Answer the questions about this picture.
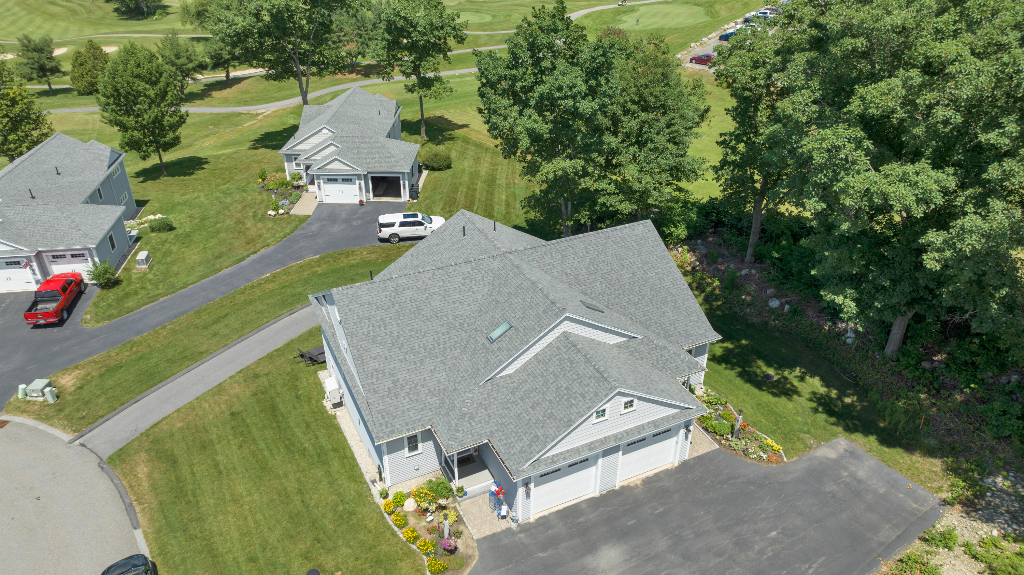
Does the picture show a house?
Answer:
Yes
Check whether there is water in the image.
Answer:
No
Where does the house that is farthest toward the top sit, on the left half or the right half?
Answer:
left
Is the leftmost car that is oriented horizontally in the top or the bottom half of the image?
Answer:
bottom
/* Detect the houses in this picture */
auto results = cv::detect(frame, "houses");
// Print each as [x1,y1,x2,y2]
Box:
[308,209,723,522]
[0,132,130,294]
[280,86,422,205]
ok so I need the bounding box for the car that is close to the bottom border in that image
[100,547,163,575]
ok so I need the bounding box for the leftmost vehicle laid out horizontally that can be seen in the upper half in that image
[375,208,451,244]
